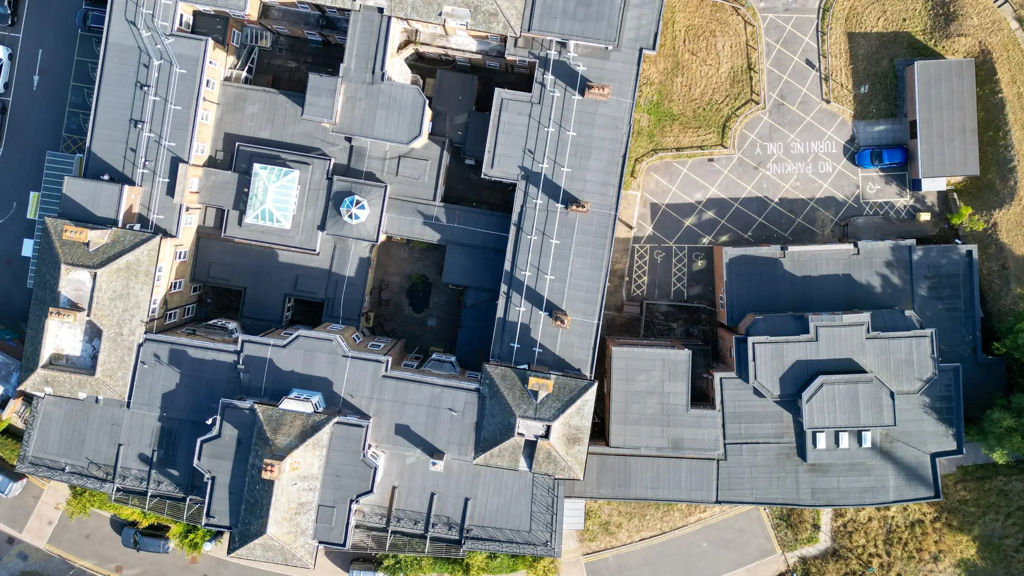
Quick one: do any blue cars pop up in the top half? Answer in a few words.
Yes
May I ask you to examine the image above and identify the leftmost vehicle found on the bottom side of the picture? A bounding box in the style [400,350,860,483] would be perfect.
[0,469,32,500]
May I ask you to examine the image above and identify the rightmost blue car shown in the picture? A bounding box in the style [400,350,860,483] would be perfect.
[852,143,907,171]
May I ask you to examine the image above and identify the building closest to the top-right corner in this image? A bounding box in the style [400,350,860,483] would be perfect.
[895,58,979,179]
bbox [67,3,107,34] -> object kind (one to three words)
car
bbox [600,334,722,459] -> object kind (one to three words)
building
